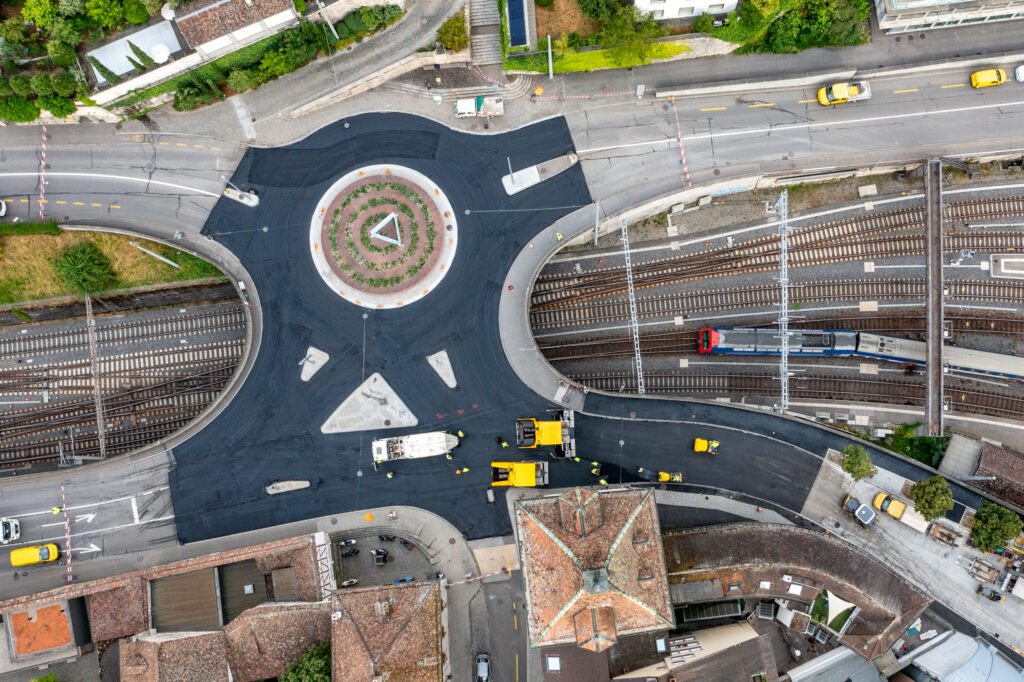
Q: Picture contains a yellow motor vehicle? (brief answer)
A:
Yes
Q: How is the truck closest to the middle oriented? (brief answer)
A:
horizontally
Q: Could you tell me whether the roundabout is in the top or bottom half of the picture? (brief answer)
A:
top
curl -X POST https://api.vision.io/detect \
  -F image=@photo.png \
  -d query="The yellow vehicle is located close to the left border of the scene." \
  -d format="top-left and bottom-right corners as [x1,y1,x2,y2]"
[10,541,66,566]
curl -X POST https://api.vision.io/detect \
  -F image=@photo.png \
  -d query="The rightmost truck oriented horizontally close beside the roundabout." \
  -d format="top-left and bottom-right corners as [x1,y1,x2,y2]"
[456,99,507,123]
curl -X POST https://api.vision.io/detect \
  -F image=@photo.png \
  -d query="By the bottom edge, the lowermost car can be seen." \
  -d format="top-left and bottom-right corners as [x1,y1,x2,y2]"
[472,648,494,682]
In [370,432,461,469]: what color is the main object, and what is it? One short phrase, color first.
white truck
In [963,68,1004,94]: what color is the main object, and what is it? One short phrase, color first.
yellow vehicle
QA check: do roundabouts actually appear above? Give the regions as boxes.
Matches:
[266,119,500,353]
